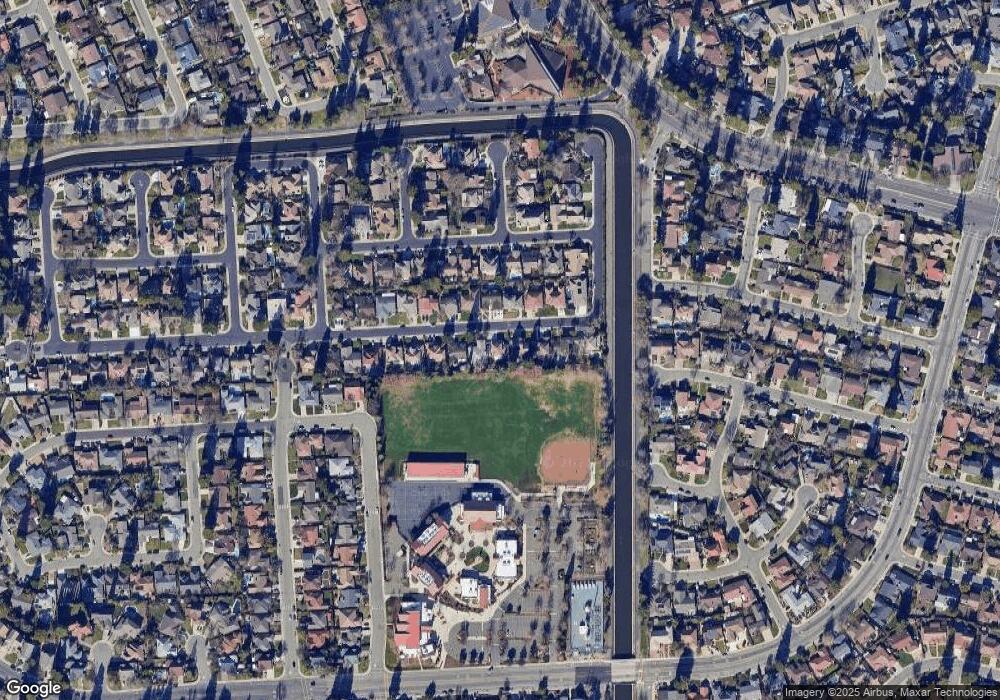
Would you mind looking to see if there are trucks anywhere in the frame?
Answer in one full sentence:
No, the frame has no truck in it.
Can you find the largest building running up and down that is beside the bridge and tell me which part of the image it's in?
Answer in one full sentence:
Look in the bottom portion of the view to spot the largest building running up and down that is beside the bridge.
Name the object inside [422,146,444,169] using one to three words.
house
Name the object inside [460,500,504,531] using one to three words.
building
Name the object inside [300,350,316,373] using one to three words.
house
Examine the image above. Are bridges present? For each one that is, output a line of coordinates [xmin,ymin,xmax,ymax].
[611,658,636,684]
